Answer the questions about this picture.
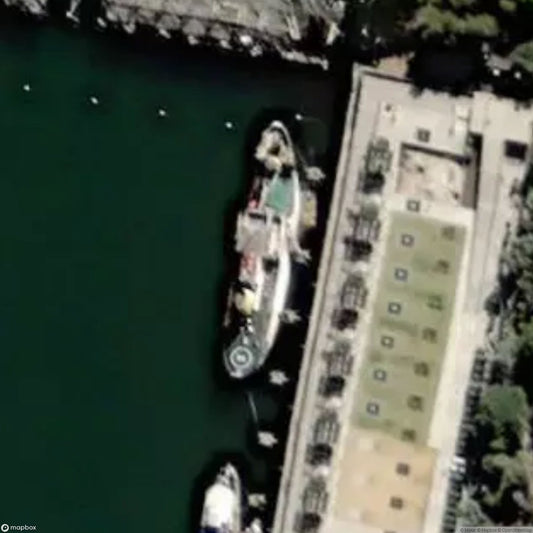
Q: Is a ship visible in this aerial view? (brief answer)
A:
Yes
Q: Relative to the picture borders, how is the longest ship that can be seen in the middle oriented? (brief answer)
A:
up and down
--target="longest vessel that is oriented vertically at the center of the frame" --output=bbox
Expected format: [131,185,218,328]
[223,120,303,379]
